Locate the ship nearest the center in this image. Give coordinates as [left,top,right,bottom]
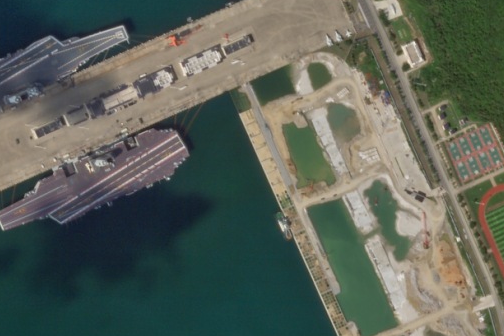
[275,211,292,240]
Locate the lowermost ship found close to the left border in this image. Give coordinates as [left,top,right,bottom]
[0,127,189,231]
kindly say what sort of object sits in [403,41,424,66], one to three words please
house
